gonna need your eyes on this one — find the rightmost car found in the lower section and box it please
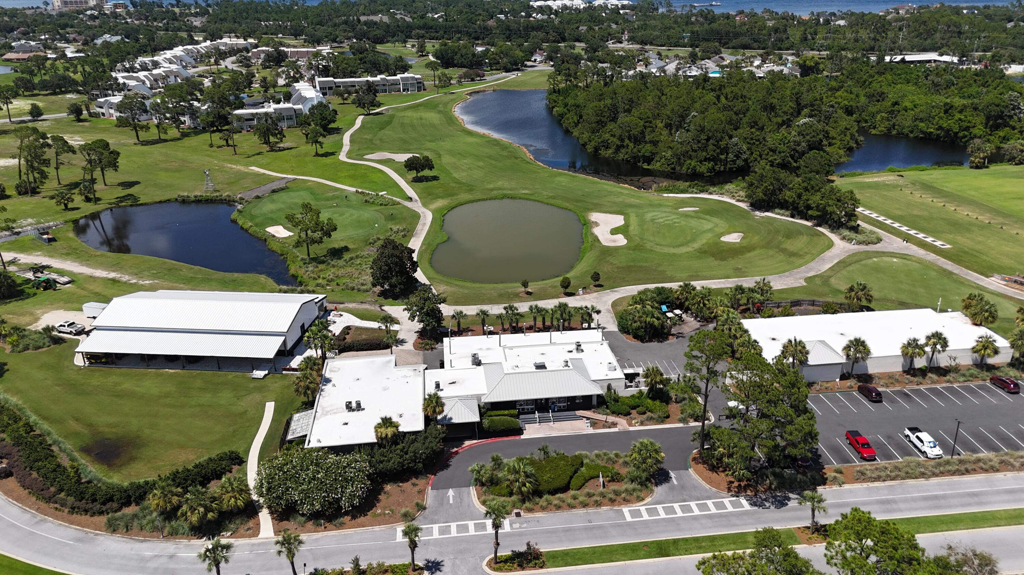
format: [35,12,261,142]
[990,375,1020,392]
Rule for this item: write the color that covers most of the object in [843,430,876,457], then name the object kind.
red truck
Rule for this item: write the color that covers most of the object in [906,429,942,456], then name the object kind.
white truck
